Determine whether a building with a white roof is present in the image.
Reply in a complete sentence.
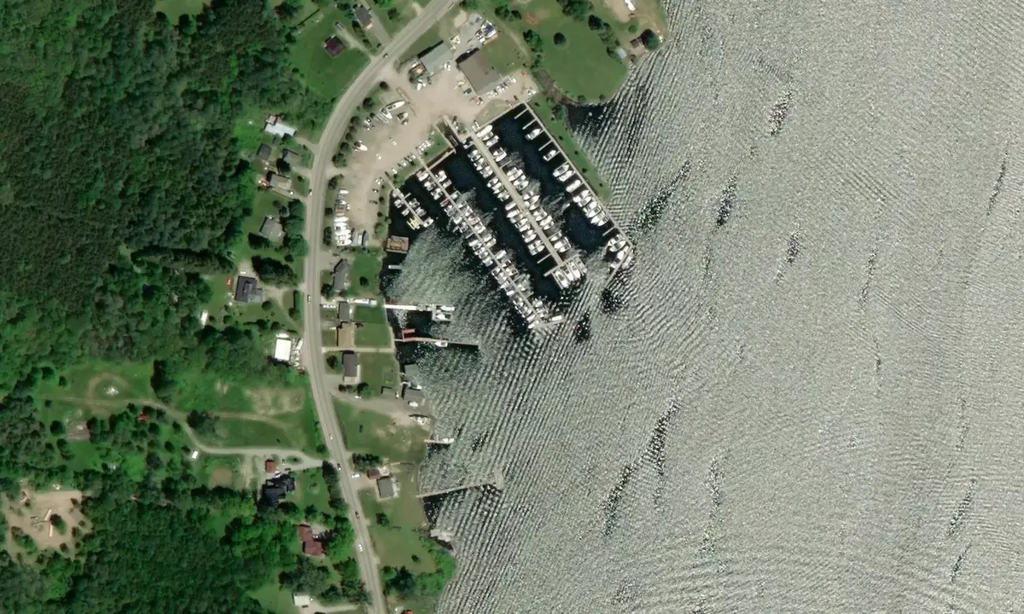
Yes, I can see a building with a white roof in this picture.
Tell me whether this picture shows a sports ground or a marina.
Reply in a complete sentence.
The area seen from above is a marina.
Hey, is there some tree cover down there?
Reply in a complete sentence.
Yes, tree cover can be seen from above here.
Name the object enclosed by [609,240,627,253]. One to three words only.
boat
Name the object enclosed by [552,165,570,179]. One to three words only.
boat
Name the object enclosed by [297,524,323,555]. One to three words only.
house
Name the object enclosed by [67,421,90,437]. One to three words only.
barn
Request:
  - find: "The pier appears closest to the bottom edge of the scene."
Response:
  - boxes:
[416,470,504,498]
